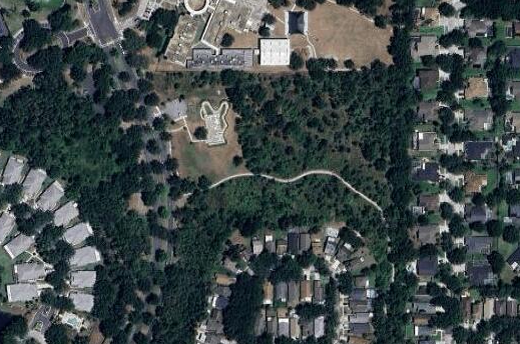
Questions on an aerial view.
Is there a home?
Yes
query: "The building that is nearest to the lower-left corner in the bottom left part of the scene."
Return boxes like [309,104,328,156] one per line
[7,281,41,301]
